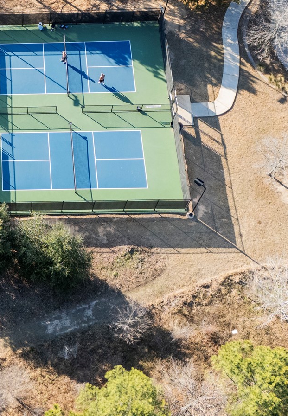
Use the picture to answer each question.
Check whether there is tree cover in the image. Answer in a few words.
Yes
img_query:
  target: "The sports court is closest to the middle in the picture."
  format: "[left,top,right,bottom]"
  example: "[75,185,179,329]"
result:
[1,131,148,191]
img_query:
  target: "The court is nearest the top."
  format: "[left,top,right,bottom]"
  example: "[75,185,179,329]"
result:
[0,41,136,94]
